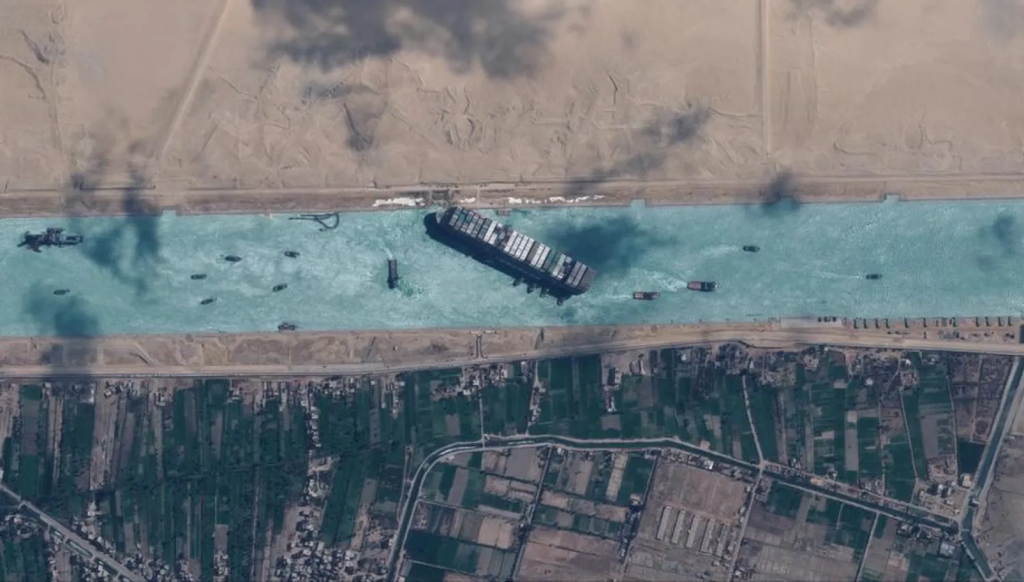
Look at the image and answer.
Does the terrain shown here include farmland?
Yes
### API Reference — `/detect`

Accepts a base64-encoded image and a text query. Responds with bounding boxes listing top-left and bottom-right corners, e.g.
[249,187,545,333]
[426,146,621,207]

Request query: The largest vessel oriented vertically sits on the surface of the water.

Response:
[389,257,401,287]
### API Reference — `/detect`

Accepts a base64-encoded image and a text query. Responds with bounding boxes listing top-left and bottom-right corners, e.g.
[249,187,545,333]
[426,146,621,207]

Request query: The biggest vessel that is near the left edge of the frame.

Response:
[17,222,83,252]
